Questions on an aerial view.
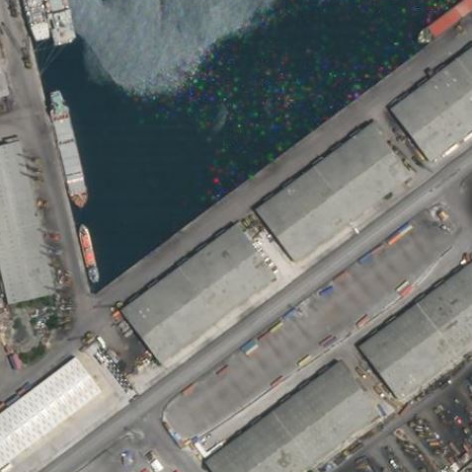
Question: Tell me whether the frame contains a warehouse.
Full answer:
Yes, the image includes a warehouse.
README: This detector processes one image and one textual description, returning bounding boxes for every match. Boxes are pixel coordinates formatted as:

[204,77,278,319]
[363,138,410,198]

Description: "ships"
[50,91,86,208]
[418,0,472,46]
[80,225,99,284]
[24,0,50,43]
[43,0,76,45]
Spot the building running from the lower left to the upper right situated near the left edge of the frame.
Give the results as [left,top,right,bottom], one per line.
[0,357,101,468]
